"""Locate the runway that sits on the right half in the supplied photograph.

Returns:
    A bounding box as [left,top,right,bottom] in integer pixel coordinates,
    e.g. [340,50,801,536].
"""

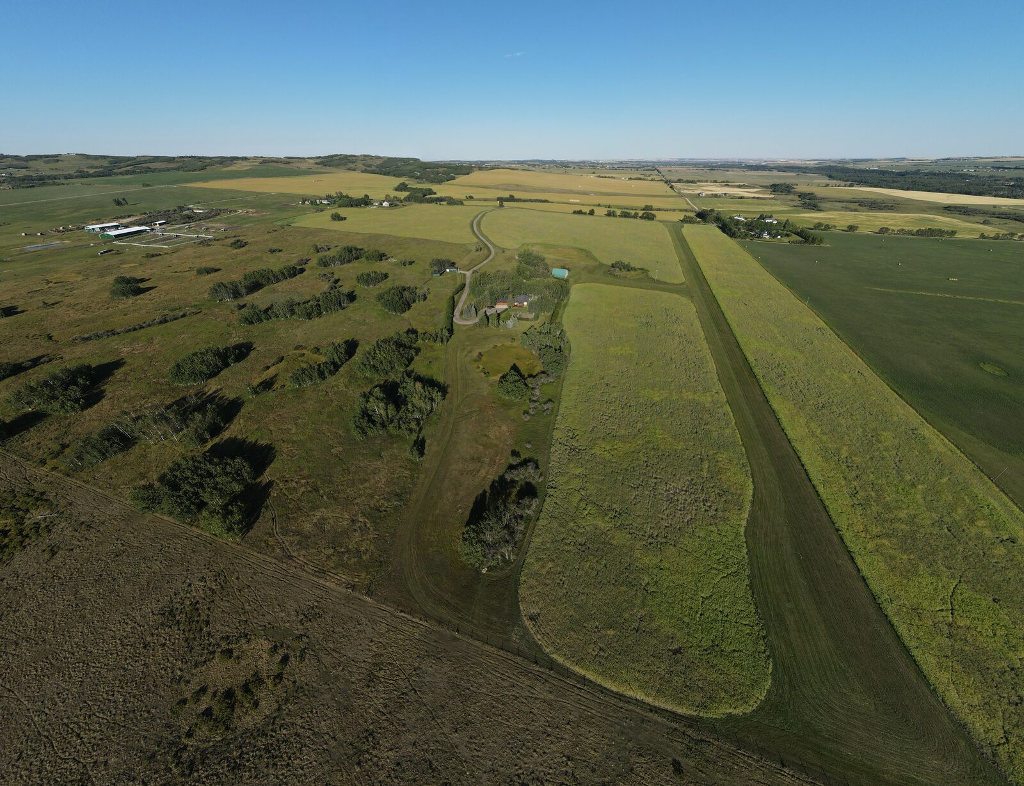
[670,224,1008,786]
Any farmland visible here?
Yes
